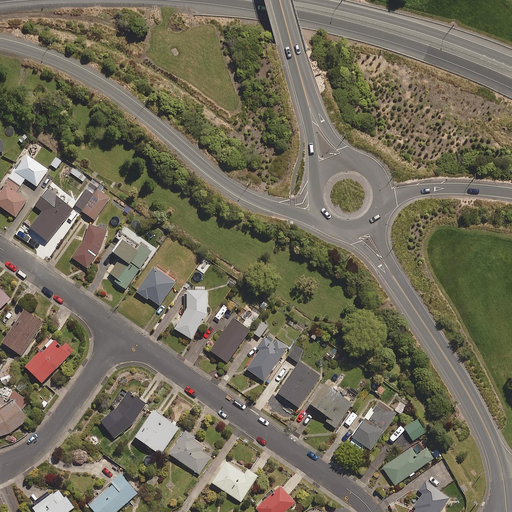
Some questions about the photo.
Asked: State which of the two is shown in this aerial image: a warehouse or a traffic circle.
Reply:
traffic circle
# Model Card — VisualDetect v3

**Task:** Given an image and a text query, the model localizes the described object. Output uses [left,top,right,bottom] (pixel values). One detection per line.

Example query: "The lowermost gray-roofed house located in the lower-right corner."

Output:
[410,481,449,512]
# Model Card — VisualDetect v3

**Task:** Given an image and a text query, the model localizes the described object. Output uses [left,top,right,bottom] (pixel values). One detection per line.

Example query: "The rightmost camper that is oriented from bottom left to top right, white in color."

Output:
[388,426,405,443]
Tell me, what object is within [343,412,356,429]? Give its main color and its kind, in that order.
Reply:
white vehicle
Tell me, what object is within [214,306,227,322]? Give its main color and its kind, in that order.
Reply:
white vehicle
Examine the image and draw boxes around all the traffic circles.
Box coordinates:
[310,158,386,234]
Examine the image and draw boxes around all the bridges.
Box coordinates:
[264,0,306,56]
